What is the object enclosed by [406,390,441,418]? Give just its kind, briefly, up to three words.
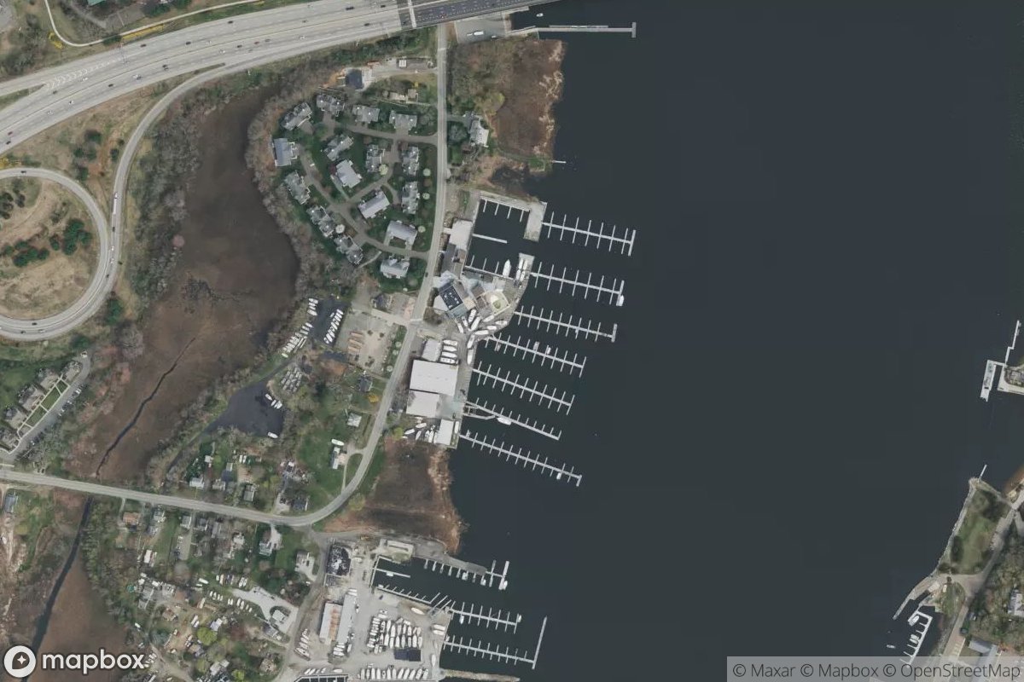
shed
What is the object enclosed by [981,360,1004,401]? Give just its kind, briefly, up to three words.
ship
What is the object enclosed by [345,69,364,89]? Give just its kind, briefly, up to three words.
building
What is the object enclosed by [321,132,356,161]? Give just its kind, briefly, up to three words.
house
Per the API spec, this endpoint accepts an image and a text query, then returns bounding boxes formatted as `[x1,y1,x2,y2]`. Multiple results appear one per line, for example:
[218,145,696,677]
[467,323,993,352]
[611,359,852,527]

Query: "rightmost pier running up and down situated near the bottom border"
[900,604,933,666]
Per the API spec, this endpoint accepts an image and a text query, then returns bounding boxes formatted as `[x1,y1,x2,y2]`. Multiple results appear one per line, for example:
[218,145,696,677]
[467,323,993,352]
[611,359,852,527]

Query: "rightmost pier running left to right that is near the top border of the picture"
[534,22,636,37]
